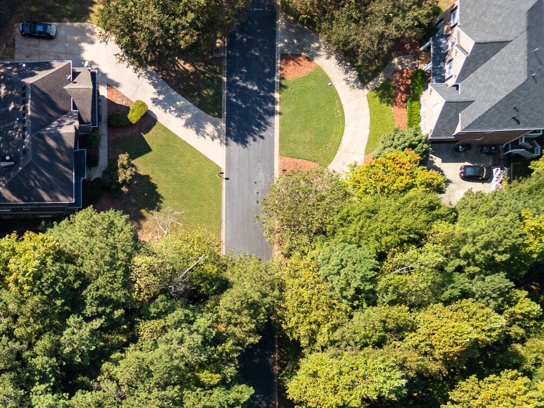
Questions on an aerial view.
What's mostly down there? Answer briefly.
trees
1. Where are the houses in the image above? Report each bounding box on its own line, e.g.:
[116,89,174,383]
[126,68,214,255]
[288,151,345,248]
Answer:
[415,0,544,146]
[0,60,97,215]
